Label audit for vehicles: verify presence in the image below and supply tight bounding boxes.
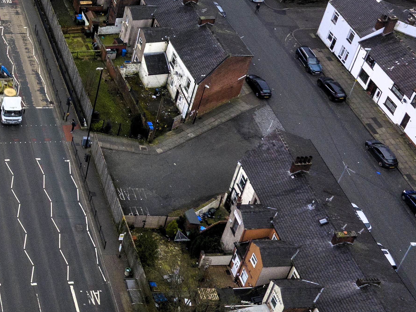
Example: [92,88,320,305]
[350,203,379,235]
[316,77,350,106]
[399,190,416,215]
[374,239,406,274]
[248,74,276,103]
[363,143,405,176]
[213,0,231,20]
[0,56,23,124]
[294,47,324,74]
